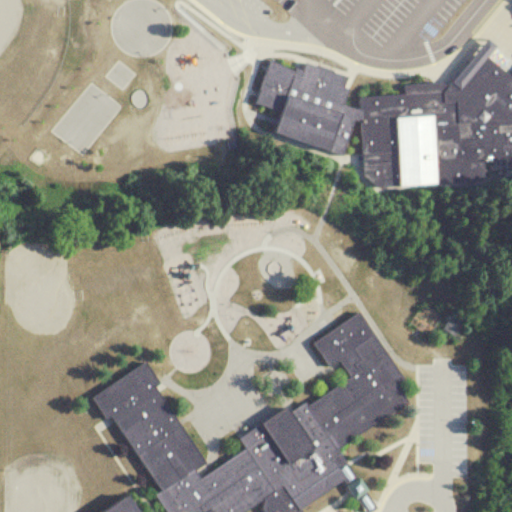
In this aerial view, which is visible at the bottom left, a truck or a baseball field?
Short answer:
baseball field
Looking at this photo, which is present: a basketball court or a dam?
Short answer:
basketball court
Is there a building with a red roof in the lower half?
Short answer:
No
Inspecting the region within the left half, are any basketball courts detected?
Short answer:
Yes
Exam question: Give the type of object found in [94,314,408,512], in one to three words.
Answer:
building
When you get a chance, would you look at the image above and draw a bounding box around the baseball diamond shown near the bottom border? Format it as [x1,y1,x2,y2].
[4,454,82,512]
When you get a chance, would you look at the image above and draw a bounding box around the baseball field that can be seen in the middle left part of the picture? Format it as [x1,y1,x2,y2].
[4,244,75,336]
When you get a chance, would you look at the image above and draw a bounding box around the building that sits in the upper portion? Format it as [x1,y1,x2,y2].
[256,41,512,188]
